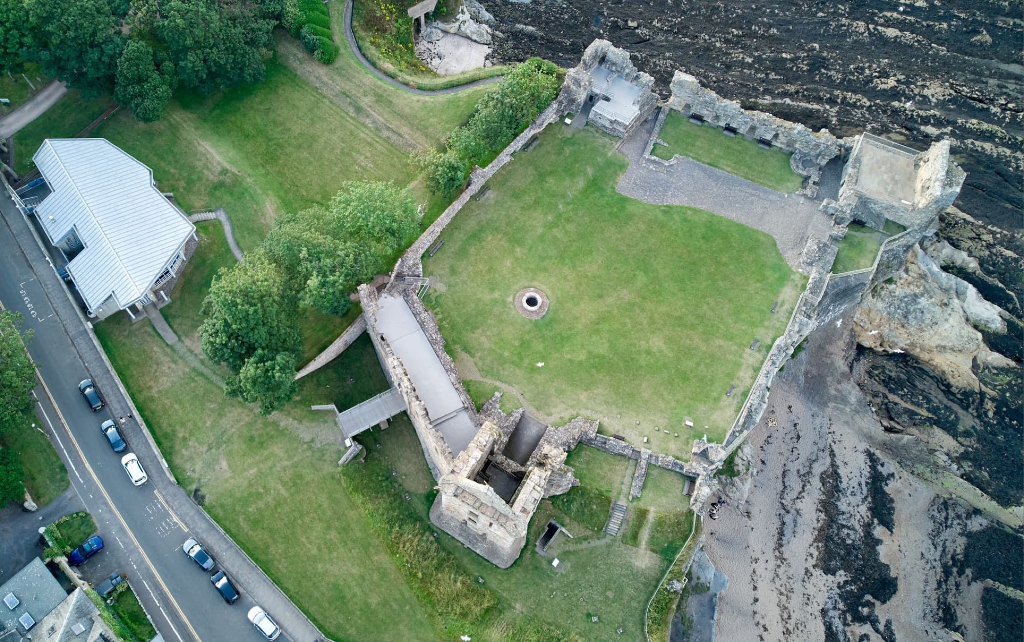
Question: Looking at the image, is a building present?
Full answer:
Yes, you can see a building in this photo.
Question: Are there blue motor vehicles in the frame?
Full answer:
Yes, a blue motor vehicle can be made out from above.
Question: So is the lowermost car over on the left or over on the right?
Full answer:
The lowermost car is on the left side of the image.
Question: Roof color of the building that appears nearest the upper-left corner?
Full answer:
The roof over the building that appears nearest the upper-left corner appears white.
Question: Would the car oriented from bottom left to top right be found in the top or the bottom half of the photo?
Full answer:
The car oriented from bottom left to top right sits in the bottom half of the picture.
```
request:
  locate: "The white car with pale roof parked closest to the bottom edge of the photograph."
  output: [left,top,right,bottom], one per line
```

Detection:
[249,605,281,642]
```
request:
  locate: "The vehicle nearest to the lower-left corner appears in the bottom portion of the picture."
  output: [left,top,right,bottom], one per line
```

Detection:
[69,533,106,567]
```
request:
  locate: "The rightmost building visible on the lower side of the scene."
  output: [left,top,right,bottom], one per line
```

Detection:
[429,422,551,568]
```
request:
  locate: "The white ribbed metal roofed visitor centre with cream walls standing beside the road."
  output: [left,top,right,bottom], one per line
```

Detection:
[32,137,204,325]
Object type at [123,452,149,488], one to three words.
car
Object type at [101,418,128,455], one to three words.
car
